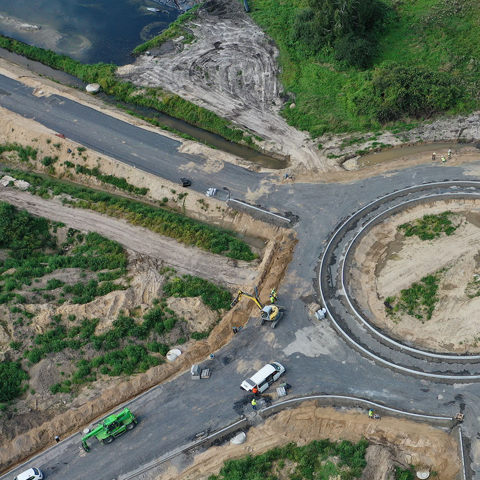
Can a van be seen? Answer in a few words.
Yes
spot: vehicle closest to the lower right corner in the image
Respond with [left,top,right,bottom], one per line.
[242,363,286,392]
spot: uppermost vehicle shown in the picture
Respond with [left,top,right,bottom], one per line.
[238,288,283,329]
